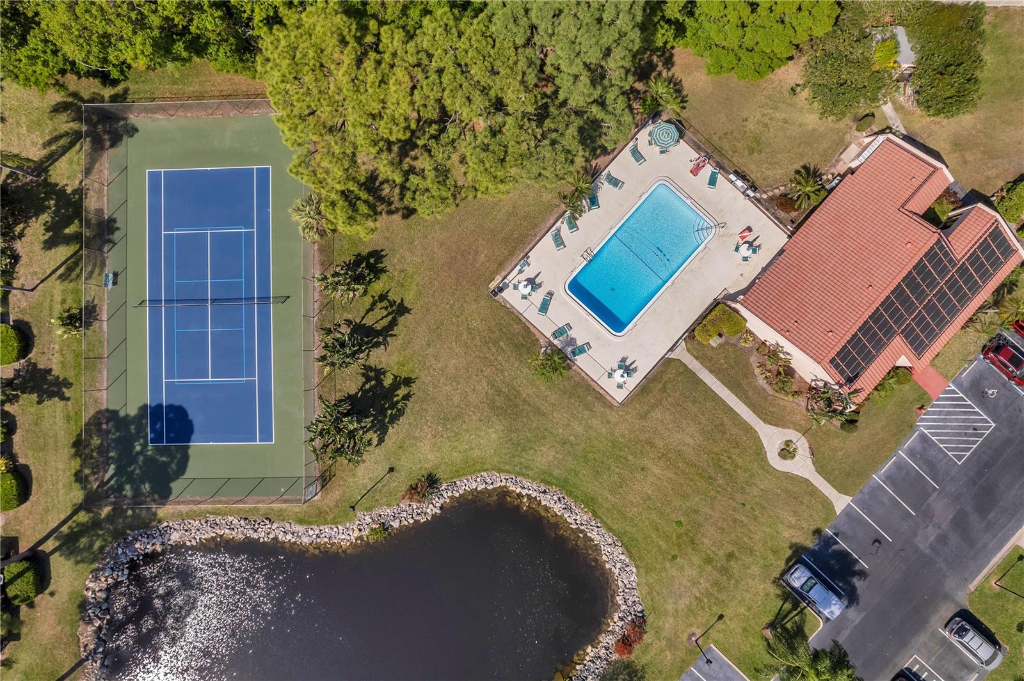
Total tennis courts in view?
one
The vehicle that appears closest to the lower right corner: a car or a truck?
car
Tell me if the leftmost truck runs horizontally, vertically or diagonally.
diagonally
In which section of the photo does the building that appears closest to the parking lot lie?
right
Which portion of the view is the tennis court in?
left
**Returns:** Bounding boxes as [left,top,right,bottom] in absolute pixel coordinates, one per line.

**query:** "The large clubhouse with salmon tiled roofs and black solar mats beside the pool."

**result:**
[735,129,1024,409]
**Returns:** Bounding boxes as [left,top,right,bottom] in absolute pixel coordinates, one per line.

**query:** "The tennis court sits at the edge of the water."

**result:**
[107,114,314,500]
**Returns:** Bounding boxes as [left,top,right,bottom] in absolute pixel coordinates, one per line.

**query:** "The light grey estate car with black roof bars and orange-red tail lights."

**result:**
[943,612,997,663]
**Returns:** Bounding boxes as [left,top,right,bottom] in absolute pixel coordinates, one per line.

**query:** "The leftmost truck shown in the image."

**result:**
[785,563,843,620]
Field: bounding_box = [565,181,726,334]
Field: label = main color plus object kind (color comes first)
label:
blue swimming pool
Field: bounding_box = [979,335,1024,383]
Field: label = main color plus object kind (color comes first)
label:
red car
